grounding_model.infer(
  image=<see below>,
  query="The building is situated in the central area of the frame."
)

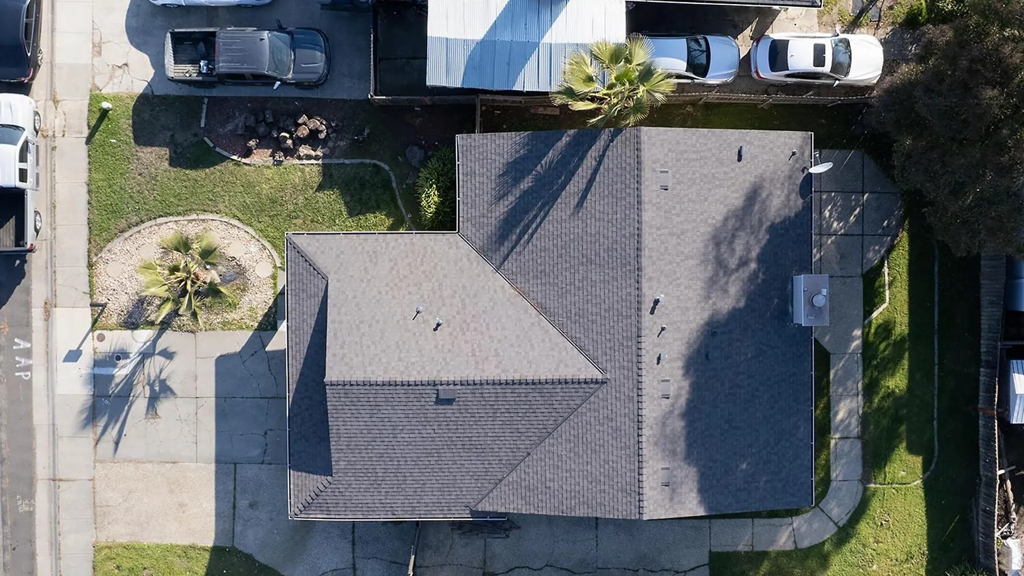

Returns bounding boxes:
[286,125,831,520]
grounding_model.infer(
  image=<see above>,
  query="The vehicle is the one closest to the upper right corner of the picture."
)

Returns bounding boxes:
[747,26,881,91]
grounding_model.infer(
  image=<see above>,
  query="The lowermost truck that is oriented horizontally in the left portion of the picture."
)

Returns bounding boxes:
[164,20,331,89]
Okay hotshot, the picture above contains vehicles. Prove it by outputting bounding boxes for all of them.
[0,0,45,87]
[150,0,280,13]
[624,26,738,91]
[0,95,43,256]
[164,20,331,89]
[747,26,881,91]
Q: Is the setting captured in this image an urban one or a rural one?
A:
urban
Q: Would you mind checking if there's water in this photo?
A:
No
